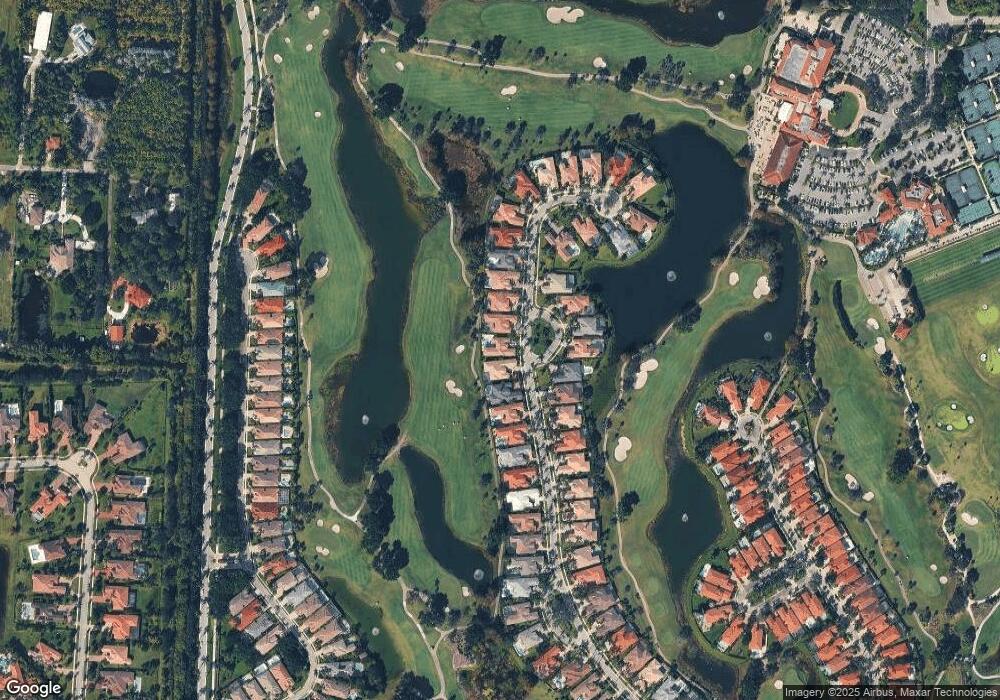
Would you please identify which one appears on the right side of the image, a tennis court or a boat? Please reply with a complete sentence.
The feature located on the right side of the image is a tennis court.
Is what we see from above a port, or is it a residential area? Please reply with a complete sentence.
The picture captures a residential area.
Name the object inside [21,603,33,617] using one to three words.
swimming pool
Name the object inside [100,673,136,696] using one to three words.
house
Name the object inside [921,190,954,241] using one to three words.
building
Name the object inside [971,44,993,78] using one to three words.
tennis court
